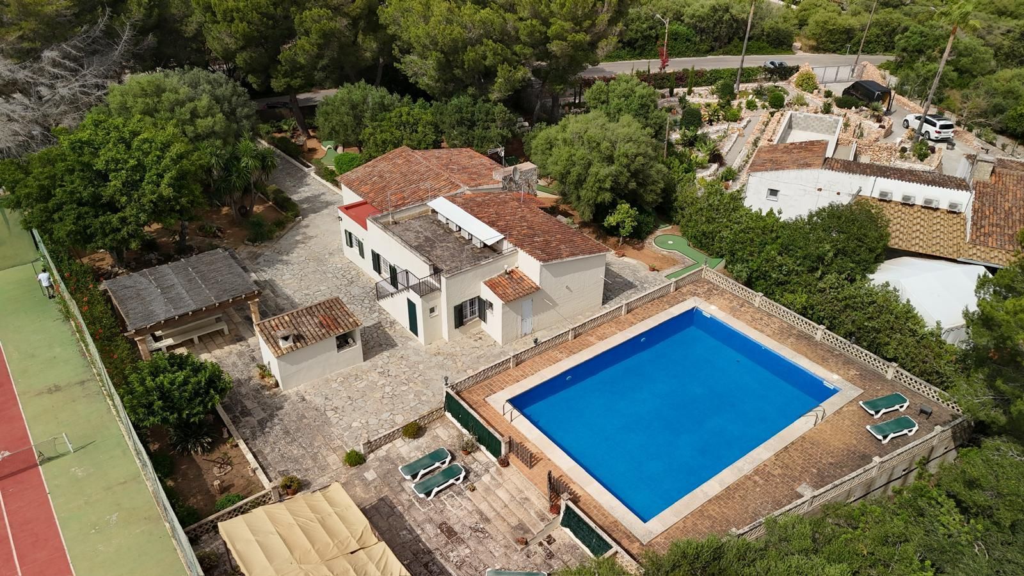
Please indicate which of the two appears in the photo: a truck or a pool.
pool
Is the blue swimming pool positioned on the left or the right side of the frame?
right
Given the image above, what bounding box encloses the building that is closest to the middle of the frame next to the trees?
[337,144,617,345]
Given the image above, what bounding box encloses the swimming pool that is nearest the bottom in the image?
[484,296,864,539]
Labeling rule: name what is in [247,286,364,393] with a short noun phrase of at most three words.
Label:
shed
